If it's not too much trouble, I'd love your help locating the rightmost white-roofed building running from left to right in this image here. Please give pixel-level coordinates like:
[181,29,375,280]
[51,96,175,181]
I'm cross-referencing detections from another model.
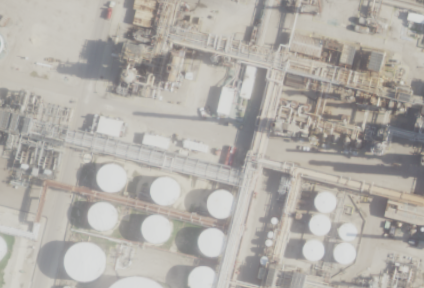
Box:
[386,201,424,224]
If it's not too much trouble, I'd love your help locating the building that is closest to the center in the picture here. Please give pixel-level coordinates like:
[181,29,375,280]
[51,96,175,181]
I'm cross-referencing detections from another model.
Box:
[218,86,236,116]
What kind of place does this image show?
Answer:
industrial area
